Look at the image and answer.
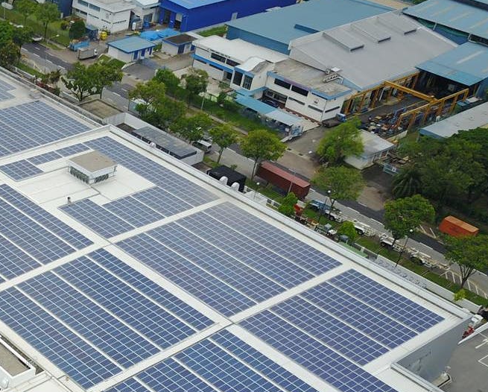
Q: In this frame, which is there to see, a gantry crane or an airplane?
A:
gantry crane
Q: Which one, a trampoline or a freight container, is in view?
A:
freight container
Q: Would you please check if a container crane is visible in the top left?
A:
No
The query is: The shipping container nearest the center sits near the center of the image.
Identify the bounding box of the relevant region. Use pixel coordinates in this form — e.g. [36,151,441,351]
[256,156,317,195]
